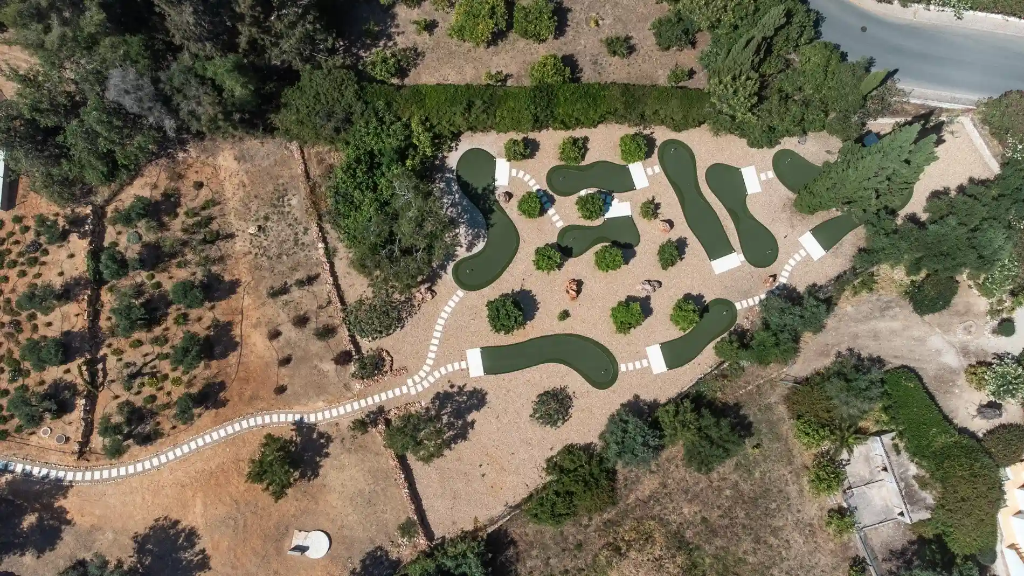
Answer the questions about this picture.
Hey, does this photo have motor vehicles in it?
No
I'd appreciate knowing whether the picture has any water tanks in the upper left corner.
No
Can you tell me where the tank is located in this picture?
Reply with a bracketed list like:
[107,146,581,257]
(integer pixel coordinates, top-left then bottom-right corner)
[287,529,331,558]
